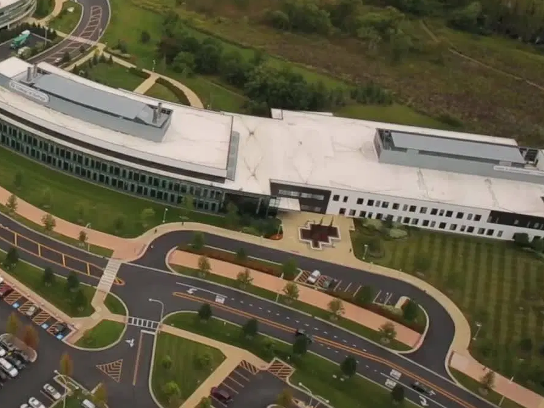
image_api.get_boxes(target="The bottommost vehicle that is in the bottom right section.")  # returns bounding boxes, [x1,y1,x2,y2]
[411,381,434,398]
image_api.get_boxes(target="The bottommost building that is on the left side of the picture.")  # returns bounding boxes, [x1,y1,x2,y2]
[0,56,270,221]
